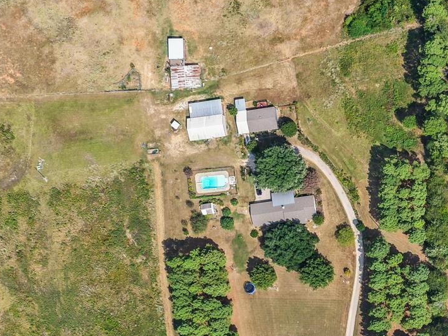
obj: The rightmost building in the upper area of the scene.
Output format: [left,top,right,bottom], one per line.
[246,106,279,132]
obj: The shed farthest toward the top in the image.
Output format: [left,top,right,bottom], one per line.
[167,37,188,60]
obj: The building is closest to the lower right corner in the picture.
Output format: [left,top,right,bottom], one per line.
[249,189,317,225]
